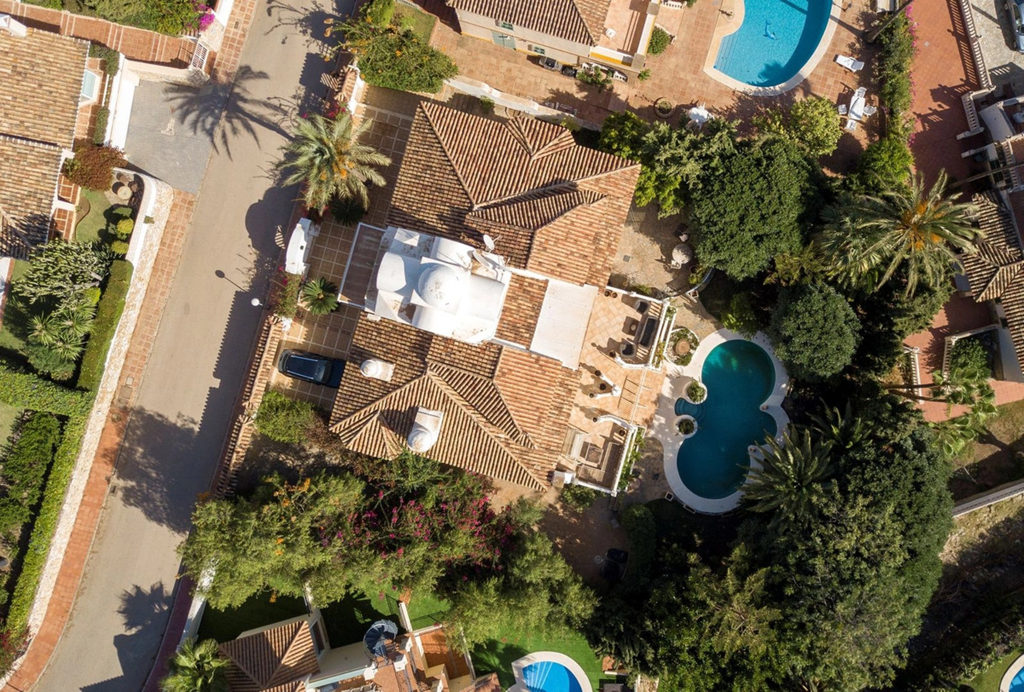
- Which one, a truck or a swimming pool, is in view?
swimming pool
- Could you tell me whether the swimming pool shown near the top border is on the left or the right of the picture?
right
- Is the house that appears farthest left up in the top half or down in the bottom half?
top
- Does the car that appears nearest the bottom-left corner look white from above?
No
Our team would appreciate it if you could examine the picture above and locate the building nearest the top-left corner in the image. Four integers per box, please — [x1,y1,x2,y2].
[0,12,112,259]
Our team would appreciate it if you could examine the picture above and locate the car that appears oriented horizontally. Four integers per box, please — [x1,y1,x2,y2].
[278,350,350,390]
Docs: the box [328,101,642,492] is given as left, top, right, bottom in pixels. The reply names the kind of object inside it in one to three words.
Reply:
house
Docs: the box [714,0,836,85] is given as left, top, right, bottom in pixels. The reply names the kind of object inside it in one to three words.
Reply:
swimming pool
